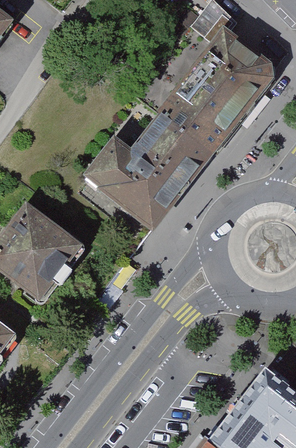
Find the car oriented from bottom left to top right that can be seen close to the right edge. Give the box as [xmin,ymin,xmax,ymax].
[270,75,290,97]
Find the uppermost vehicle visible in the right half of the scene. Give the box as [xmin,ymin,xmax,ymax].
[220,0,242,16]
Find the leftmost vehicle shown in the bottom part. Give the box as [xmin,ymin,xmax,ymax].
[54,394,72,414]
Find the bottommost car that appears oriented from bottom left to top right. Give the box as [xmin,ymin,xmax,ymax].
[108,423,128,444]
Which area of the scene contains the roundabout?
right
